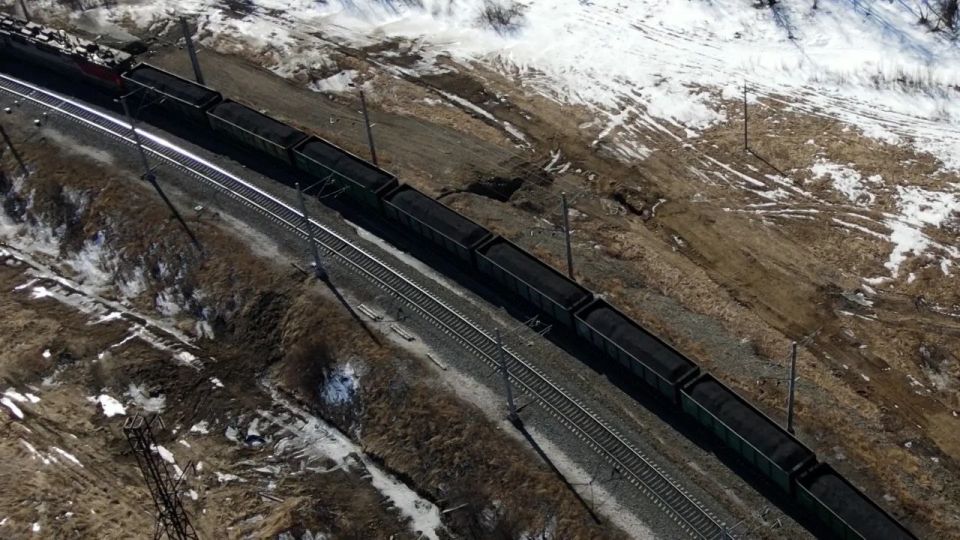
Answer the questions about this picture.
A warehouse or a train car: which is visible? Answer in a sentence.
There is a train car in the scene.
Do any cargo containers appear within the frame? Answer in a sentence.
No, I can see no cargo container in this picture.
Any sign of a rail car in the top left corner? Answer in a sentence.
Yes, there is a rail car in the top left corner.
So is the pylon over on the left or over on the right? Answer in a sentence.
The pylon appears in the left half of the scene.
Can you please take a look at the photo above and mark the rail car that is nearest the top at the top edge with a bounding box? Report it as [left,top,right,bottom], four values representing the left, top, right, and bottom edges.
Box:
[0,12,138,91]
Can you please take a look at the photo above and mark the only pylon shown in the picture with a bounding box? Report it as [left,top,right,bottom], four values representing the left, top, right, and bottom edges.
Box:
[127,410,206,540]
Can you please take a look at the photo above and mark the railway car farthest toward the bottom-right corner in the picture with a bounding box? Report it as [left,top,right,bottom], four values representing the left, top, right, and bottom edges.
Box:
[797,463,922,540]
